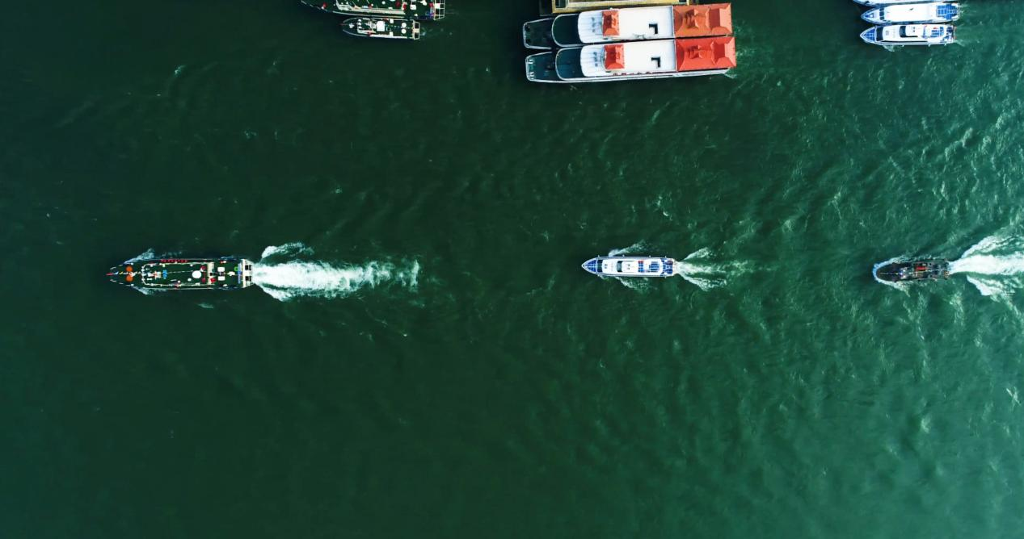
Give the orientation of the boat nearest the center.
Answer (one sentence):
From this overhead view, the boat nearest the center appears to run horizontally.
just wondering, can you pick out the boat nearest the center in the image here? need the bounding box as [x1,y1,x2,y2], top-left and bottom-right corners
[582,256,678,278]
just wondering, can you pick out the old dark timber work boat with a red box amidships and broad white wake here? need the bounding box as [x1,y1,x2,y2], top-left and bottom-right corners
[879,260,952,281]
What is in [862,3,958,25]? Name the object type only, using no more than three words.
boat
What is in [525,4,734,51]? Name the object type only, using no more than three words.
ship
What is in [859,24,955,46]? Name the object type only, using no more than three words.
boat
